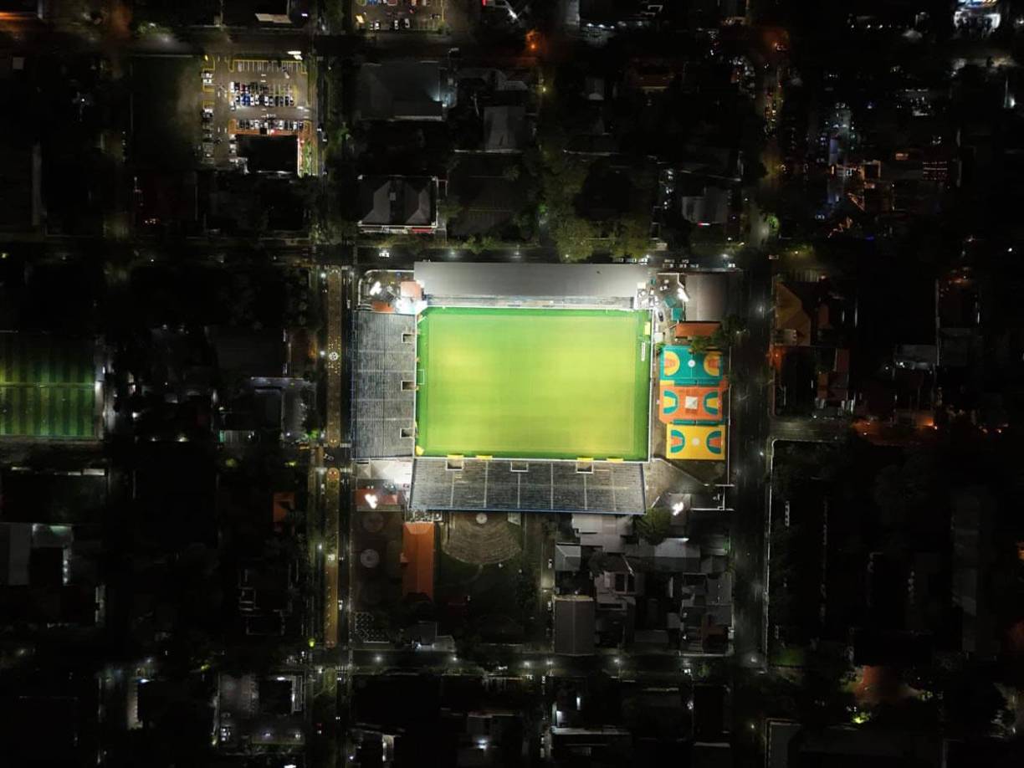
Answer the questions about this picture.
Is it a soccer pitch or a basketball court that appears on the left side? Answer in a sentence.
There is a soccer pitch on the left side.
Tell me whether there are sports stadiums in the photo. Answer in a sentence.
Yes, a sports stadium is visible in the scene.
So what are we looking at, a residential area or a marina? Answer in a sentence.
The picture captures a residential area.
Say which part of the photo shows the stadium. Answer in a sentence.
The stadium appears toward the center of the photo.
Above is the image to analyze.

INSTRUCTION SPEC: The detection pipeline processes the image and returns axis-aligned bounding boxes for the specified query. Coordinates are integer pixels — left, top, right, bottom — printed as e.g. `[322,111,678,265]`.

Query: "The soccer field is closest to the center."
[417,307,649,459]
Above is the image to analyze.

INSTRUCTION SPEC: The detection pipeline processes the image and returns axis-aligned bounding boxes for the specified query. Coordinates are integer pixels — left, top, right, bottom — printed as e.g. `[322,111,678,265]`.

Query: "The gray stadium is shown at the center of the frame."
[351,262,657,514]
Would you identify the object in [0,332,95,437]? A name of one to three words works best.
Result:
soccer field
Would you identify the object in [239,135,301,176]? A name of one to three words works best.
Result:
building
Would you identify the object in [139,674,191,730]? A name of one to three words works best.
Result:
house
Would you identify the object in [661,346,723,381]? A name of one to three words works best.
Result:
basketball court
